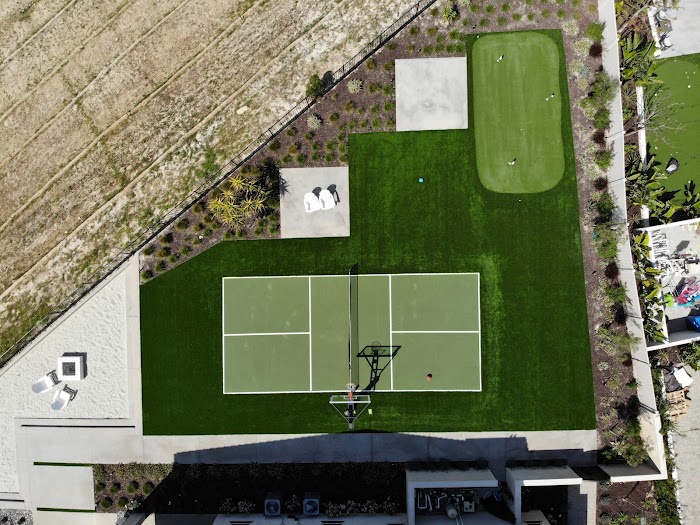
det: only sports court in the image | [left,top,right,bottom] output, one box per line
[221,273,482,394]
